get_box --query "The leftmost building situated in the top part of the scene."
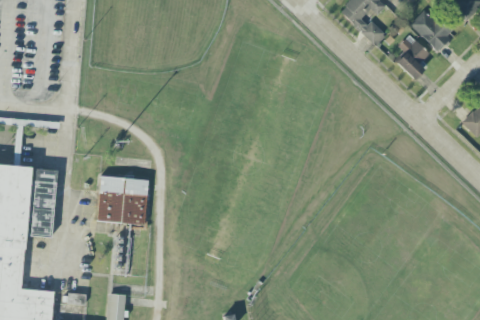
[341,0,390,46]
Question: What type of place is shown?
sports ground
